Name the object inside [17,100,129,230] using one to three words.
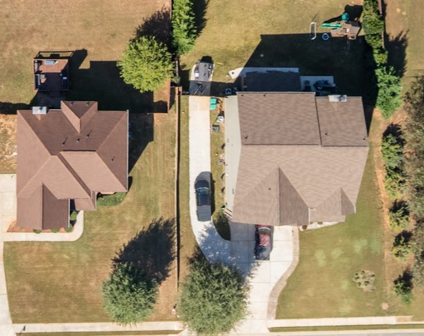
house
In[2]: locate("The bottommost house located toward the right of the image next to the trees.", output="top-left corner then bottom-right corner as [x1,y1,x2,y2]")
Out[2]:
[226,73,369,227]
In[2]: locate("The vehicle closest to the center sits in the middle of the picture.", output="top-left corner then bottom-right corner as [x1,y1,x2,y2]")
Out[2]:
[194,179,211,221]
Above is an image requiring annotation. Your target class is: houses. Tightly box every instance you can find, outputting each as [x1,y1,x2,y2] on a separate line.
[17,100,129,230]
[226,73,369,227]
